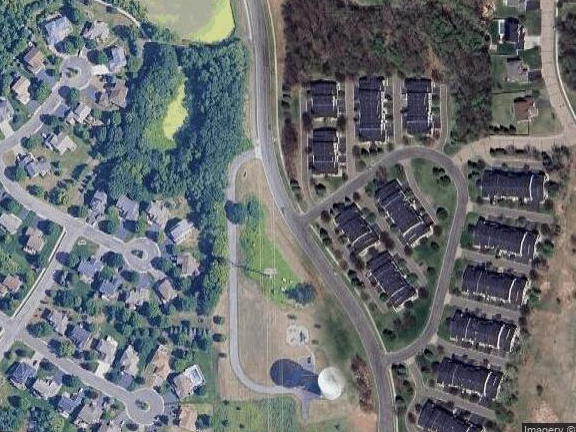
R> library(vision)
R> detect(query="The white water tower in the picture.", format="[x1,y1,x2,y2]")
[316,368,346,397]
